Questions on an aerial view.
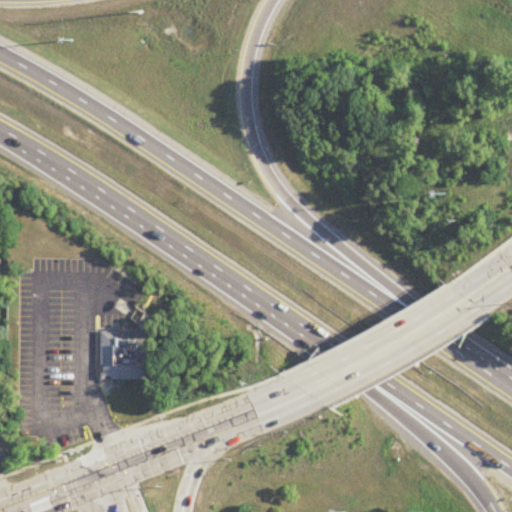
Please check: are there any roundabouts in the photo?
No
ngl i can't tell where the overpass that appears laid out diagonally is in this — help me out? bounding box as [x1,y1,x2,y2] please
[248,241,512,436]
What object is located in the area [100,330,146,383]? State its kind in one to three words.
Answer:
building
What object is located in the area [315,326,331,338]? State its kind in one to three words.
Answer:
vehicle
